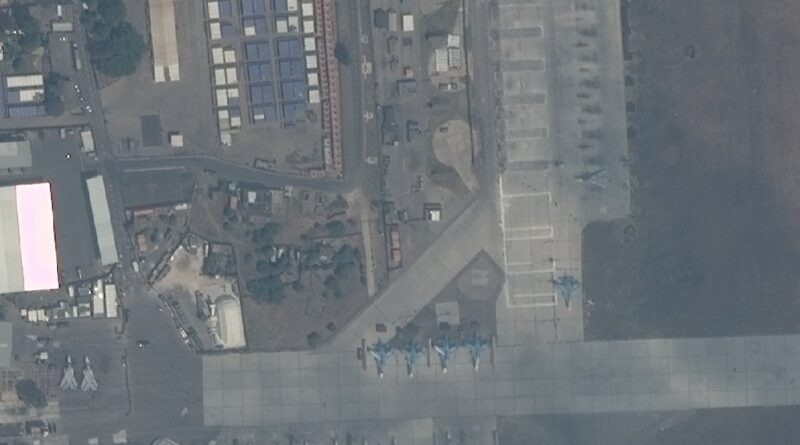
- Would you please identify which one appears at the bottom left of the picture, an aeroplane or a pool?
aeroplane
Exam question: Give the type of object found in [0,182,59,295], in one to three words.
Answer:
hangar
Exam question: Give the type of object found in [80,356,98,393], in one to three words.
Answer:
airplane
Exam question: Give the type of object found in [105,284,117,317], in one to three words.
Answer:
shed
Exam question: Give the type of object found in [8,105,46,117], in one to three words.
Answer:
building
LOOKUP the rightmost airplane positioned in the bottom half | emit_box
[555,271,580,310]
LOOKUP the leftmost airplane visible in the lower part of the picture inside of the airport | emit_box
[368,339,393,377]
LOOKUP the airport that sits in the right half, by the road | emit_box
[203,0,800,445]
